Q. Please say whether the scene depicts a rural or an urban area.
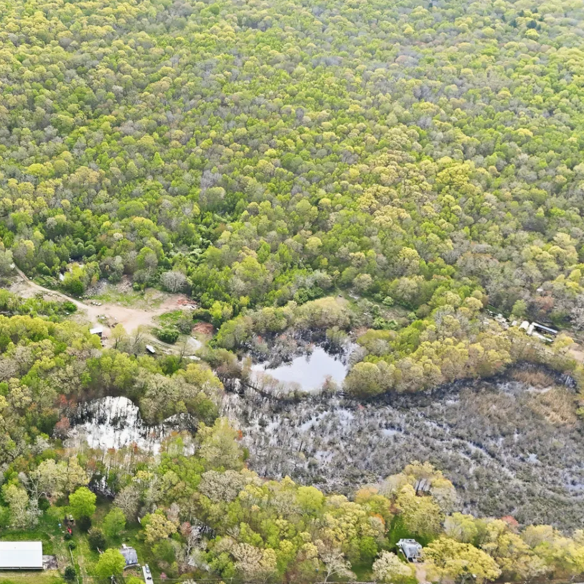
rural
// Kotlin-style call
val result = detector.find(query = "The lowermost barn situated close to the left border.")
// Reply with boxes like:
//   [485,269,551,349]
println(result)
[0,540,43,570]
